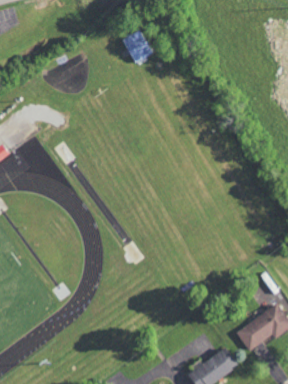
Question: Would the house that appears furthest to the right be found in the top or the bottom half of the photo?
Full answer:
It is in the bottom half that the house that appears furthest to the right appears.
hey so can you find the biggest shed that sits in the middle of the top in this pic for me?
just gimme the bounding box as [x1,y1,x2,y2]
[124,30,156,64]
